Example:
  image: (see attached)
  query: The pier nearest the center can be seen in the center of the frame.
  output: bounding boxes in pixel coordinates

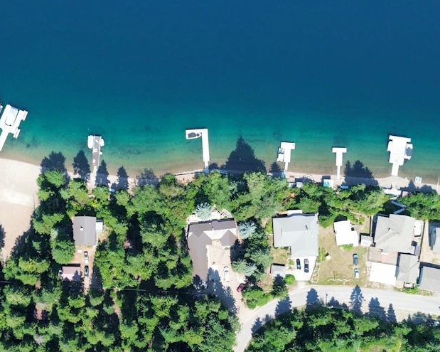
[186,129,209,174]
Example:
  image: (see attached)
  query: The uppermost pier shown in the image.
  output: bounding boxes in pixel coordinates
[0,104,24,151]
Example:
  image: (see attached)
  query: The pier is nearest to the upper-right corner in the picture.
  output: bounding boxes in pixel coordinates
[387,135,411,177]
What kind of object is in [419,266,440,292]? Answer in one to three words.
building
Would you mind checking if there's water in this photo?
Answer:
Yes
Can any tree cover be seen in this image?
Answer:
Yes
